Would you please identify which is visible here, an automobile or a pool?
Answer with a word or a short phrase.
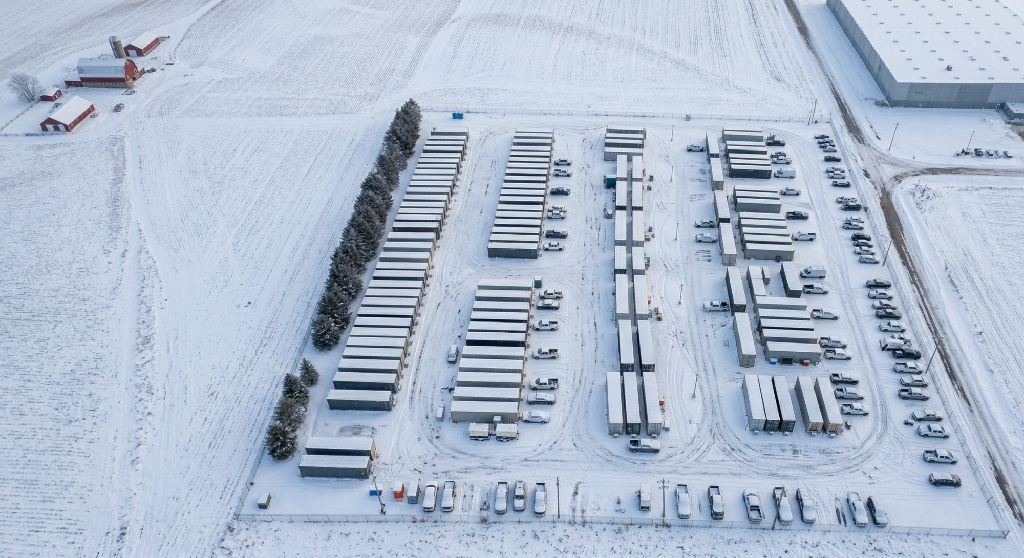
automobile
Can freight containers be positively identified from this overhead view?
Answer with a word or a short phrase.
Yes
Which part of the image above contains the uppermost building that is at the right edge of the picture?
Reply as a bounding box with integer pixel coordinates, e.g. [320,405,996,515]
[825,0,1024,109]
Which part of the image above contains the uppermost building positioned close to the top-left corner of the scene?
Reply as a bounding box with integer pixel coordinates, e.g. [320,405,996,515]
[125,28,161,56]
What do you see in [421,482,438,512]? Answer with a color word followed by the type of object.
white car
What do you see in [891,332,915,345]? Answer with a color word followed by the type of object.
white vehicle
